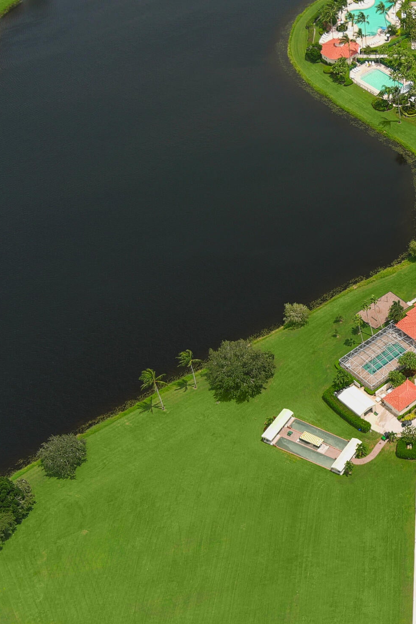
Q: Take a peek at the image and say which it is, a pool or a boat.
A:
pool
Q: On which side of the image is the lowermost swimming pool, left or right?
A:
right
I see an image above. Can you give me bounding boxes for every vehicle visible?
[382,431,390,441]
[402,419,411,427]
